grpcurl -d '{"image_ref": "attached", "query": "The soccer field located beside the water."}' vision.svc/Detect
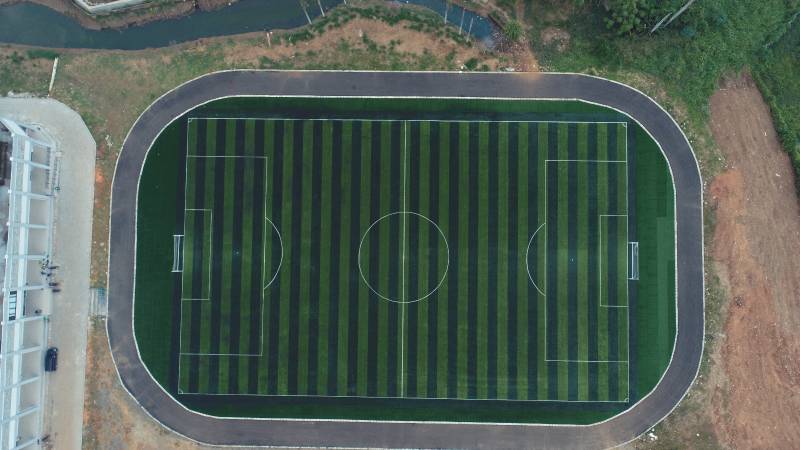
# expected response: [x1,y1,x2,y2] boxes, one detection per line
[134,96,677,425]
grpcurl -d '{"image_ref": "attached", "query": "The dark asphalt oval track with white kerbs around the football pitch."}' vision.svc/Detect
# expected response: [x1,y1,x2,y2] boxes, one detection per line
[106,70,705,450]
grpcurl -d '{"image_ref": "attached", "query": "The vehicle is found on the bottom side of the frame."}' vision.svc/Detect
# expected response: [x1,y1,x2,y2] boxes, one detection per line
[45,348,59,373]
